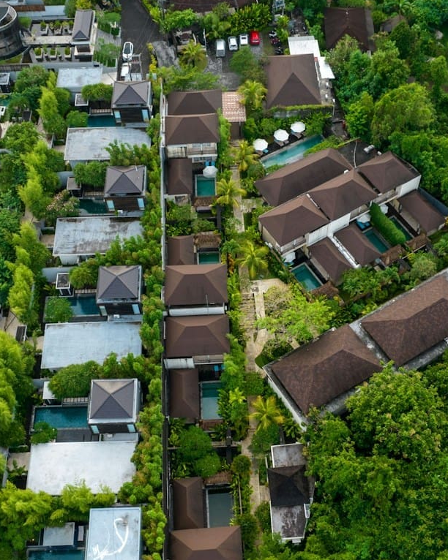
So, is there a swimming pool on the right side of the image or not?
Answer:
Yes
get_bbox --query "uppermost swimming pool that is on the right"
[264,134,323,168]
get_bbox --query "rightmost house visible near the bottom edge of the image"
[266,443,313,547]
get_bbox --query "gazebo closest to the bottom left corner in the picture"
[43,523,77,550]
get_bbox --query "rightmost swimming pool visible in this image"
[391,215,414,241]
